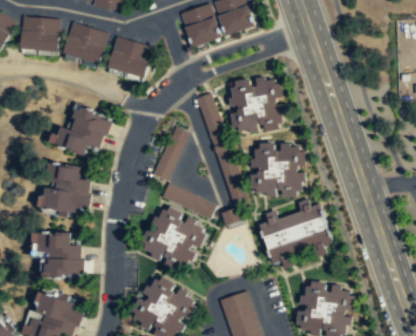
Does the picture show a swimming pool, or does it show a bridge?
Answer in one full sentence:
The one in the frame is a swimming pool.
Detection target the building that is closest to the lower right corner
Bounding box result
[296,281,354,336]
